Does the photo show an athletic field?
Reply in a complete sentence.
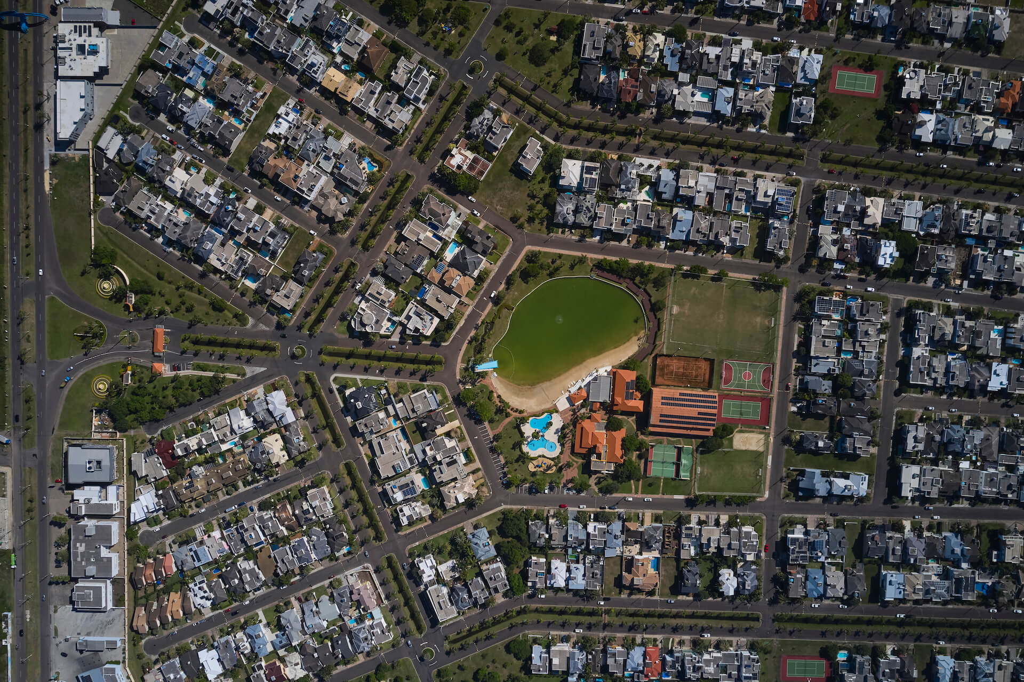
Yes, this view includes an athletic field.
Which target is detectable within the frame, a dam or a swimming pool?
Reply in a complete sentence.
There is a swimming pool in the scene.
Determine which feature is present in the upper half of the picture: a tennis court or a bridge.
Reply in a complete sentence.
You can see a tennis court in the upper half of the picture.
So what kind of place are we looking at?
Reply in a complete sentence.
The area seen from above is a residential area.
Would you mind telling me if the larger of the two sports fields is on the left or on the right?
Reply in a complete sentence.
The larger of the two sports fields is on the right side of the image.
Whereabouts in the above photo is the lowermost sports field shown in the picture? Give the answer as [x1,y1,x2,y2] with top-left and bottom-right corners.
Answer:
[698,450,764,493]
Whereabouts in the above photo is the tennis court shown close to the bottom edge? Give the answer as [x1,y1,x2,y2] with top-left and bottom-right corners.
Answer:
[782,655,831,682]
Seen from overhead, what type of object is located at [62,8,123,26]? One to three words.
building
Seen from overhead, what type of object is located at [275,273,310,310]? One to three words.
house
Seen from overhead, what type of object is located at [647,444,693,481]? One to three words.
sports court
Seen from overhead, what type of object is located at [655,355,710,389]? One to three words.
tennis court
